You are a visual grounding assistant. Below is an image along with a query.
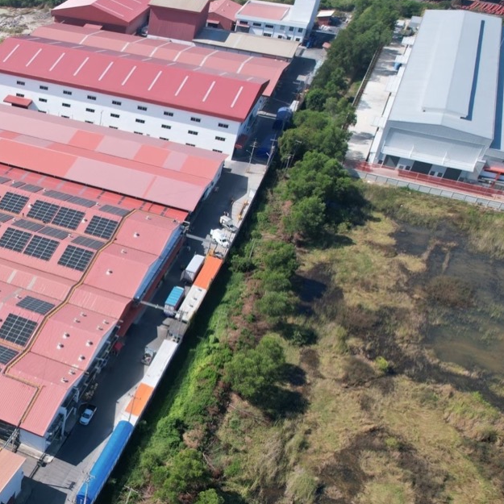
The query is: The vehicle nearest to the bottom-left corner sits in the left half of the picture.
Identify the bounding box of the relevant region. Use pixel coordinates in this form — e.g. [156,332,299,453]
[77,403,98,426]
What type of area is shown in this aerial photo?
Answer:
industrial area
